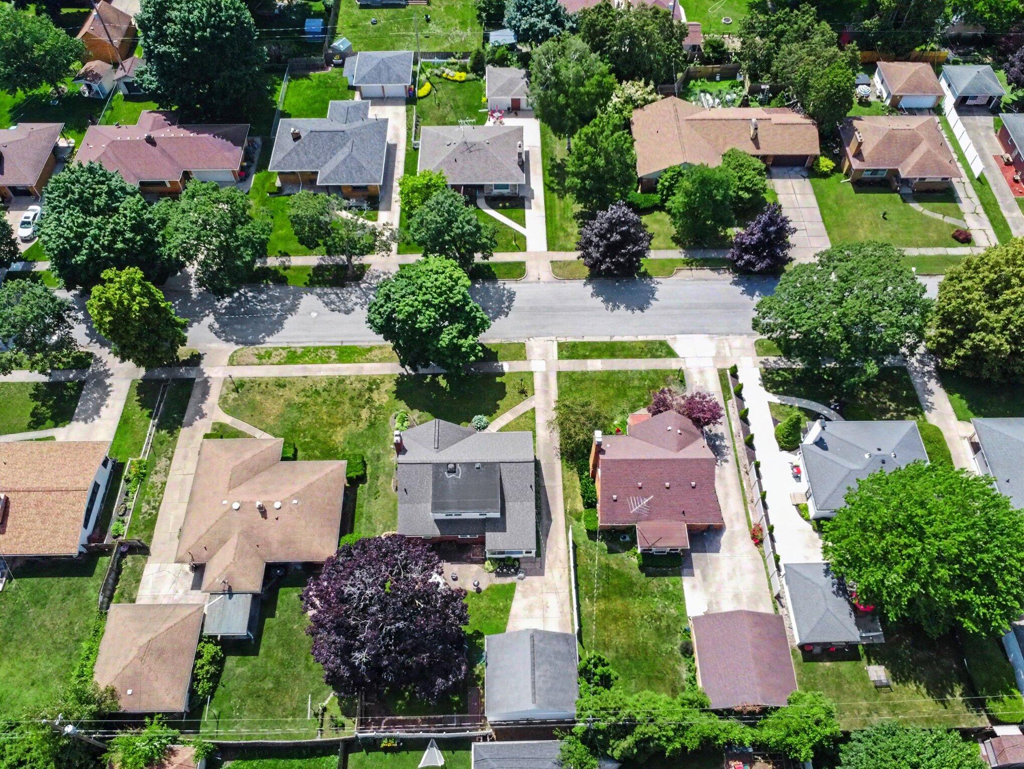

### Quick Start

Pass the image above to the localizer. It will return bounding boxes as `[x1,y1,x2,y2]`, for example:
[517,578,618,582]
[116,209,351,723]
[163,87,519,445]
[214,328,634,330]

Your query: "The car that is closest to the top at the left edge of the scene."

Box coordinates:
[13,202,39,236]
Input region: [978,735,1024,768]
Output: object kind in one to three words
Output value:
shed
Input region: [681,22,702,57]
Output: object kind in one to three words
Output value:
shed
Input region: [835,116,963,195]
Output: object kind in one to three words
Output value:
house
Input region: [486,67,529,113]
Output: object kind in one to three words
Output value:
building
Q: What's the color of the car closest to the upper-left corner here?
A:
white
